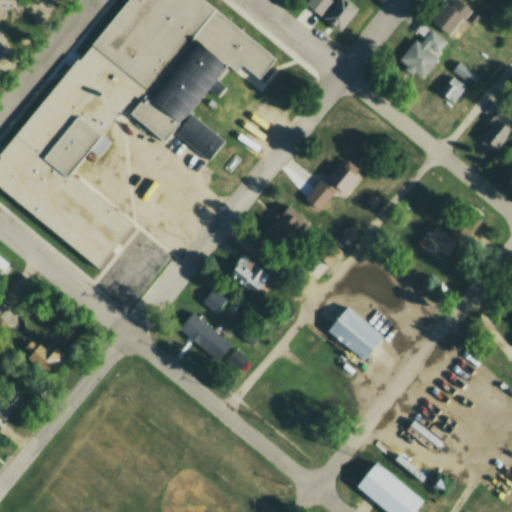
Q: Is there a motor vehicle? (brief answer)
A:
Yes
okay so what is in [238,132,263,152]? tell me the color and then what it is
white bus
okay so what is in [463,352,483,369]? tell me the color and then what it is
white vehicle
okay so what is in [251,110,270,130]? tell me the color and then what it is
yellow vehicle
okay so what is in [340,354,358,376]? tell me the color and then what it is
white vehicle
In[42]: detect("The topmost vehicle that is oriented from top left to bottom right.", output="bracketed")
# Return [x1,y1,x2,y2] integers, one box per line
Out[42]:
[312,28,328,42]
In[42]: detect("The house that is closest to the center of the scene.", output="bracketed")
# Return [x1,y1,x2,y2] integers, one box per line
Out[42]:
[234,258,270,290]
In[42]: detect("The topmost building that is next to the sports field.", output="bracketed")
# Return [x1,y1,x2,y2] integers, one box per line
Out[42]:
[0,0,277,268]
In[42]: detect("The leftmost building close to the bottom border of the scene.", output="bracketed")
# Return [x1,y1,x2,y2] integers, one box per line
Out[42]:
[358,464,426,512]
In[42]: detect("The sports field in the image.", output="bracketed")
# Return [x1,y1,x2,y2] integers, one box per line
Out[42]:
[12,367,290,512]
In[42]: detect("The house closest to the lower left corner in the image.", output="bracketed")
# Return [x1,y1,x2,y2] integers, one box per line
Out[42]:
[28,341,60,372]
